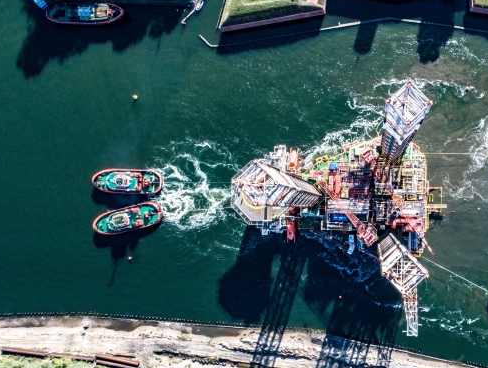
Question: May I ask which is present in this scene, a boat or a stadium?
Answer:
boat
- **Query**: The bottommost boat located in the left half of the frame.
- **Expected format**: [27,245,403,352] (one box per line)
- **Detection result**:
[90,200,166,235]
